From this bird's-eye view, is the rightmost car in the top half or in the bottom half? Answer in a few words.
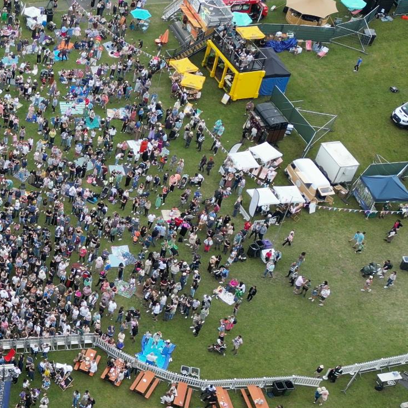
top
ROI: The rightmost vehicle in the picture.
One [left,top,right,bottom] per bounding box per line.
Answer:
[385,93,408,127]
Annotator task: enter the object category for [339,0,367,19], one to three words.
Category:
umbrella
